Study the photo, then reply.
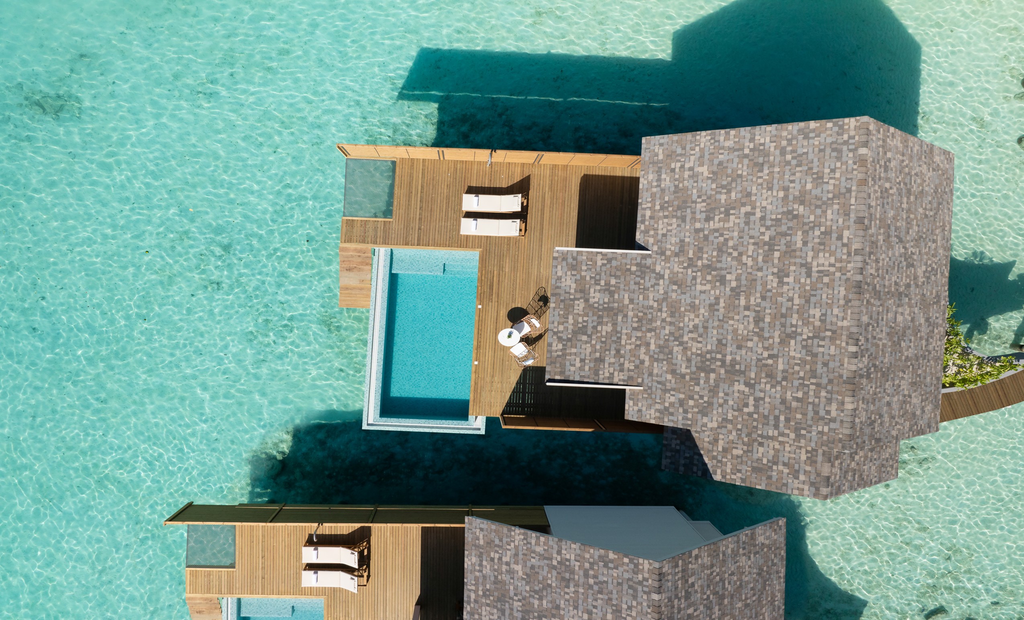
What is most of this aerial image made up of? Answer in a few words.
water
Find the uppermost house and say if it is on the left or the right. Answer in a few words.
right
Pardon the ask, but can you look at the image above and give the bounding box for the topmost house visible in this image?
[544,115,956,501]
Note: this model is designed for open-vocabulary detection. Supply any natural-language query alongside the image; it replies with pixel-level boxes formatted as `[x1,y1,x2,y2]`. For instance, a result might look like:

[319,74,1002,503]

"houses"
[465,506,782,620]
[544,115,956,501]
